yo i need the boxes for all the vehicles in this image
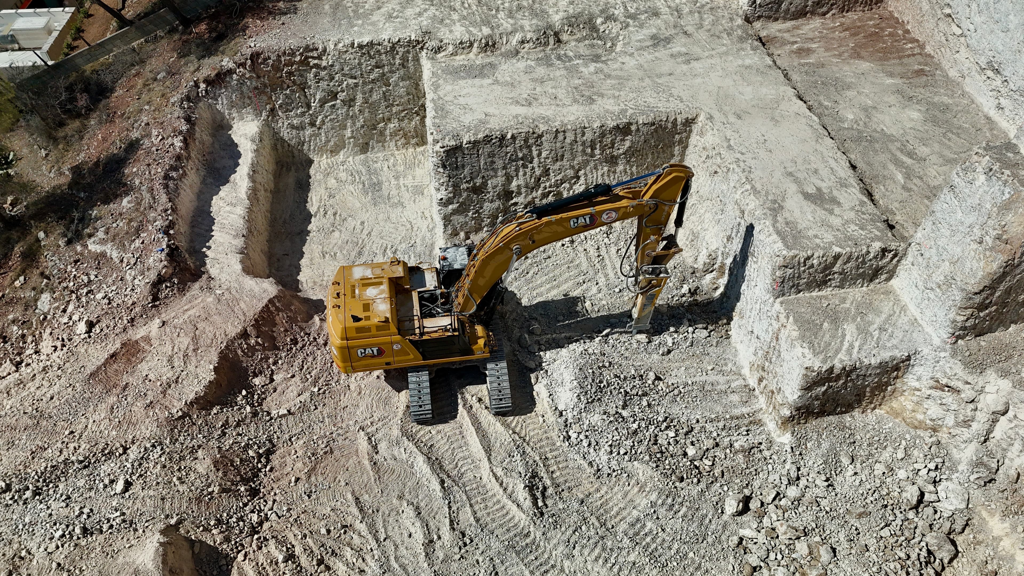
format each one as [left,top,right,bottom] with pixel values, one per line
[329,160,692,427]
